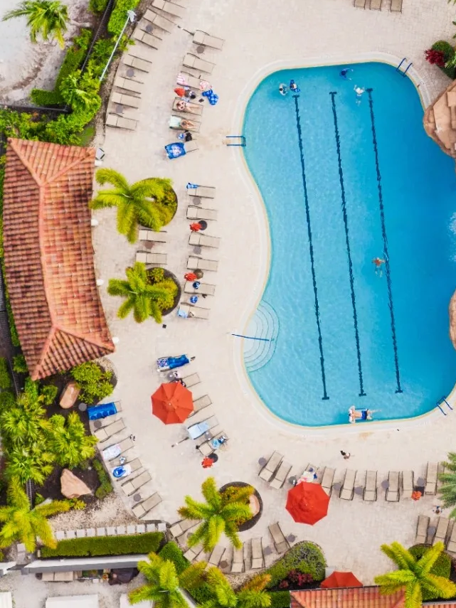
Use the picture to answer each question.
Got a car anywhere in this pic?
No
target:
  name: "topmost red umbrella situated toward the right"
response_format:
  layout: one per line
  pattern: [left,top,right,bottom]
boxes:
[287,482,329,524]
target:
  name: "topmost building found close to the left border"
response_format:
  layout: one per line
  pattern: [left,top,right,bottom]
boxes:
[0,136,115,382]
